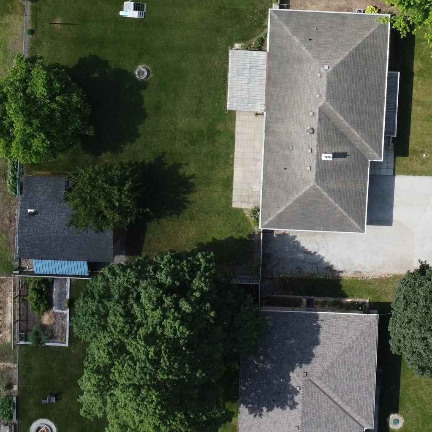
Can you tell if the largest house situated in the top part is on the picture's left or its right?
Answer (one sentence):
The largest house situated in the top part is on the right side of the image.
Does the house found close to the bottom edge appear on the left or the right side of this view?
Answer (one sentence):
It is on the right.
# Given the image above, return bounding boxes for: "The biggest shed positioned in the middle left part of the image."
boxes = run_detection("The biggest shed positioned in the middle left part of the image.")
[22,174,119,262]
